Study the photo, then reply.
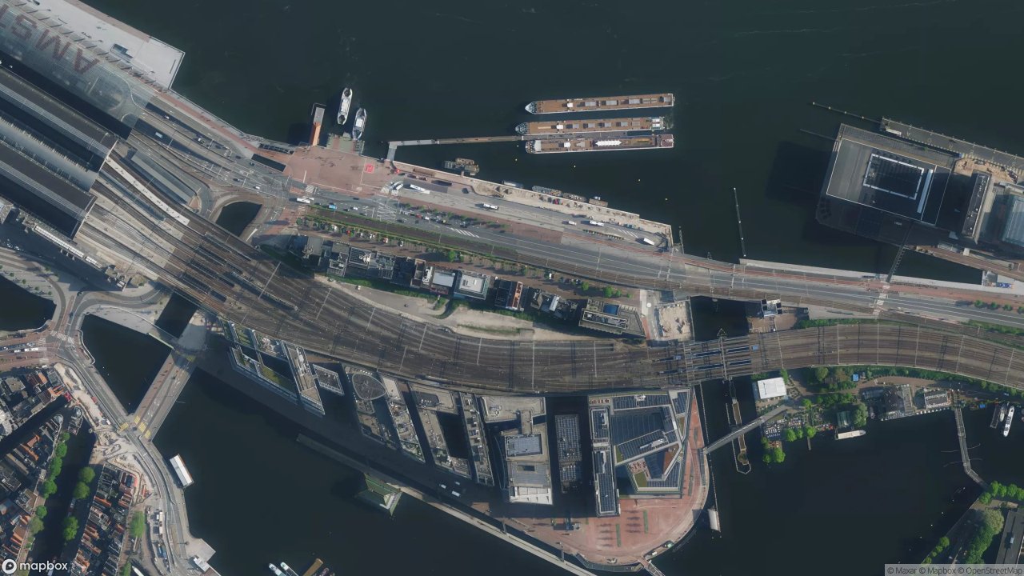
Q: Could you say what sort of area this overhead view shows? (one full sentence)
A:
This looks like a port.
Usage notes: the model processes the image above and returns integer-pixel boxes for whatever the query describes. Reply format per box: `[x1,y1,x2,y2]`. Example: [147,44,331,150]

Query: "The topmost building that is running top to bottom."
[310,109,326,149]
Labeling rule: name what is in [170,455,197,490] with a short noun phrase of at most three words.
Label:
house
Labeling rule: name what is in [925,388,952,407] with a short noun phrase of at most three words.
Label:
building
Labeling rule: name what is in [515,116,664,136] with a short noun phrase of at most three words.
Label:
ship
